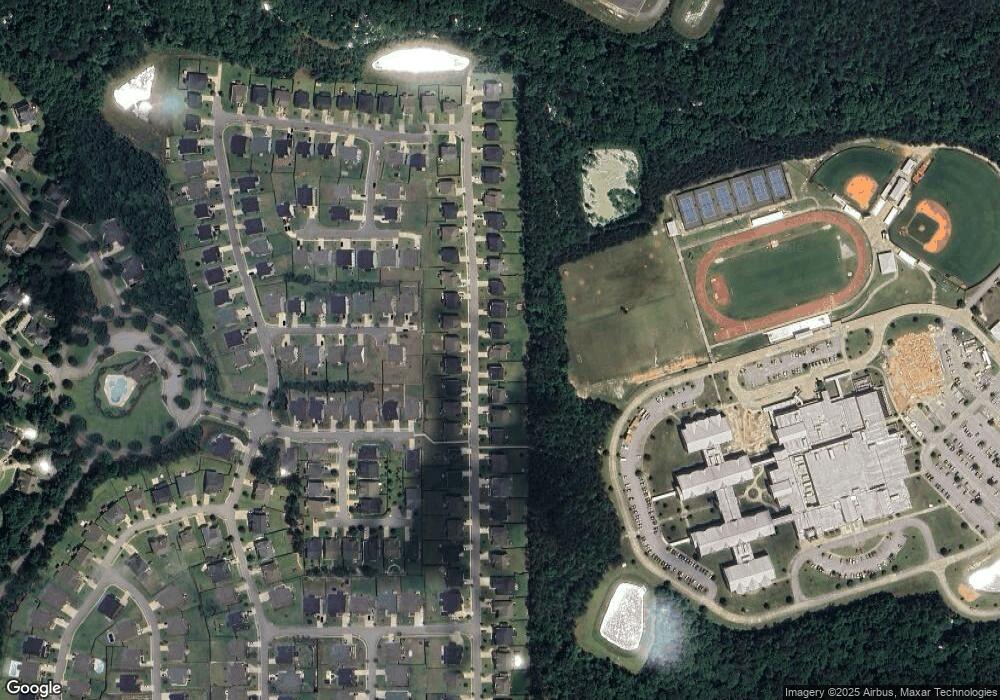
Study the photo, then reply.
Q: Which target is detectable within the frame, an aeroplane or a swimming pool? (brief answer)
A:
swimming pool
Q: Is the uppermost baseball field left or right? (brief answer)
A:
right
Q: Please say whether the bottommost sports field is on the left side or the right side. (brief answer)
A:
right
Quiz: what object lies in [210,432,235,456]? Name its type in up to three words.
house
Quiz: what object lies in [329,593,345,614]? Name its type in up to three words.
house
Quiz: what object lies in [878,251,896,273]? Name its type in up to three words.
building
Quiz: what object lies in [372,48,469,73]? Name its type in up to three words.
pond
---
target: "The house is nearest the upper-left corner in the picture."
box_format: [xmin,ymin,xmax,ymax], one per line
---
[15,100,40,126]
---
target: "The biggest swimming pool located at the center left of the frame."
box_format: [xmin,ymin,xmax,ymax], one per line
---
[104,375,137,407]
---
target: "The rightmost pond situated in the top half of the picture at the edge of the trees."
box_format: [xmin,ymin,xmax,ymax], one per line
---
[581,149,640,224]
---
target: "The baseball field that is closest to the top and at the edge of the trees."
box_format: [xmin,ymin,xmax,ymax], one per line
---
[810,147,902,211]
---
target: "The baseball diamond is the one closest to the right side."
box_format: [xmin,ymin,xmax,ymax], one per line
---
[888,147,1000,288]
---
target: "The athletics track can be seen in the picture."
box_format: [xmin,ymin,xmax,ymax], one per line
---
[696,210,866,328]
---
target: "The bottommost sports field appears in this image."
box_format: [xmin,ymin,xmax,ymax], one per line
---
[705,219,857,313]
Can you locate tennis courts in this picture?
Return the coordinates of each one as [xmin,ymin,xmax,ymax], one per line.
[716,185,733,213]
[733,181,751,207]
[752,176,770,202]
[680,197,697,224]
[770,170,787,196]
[698,191,716,218]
